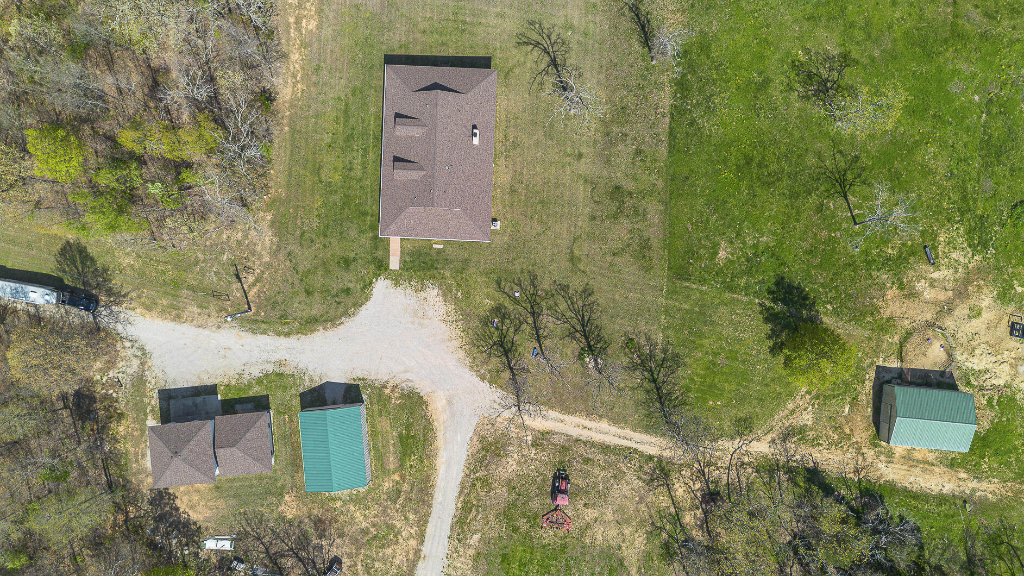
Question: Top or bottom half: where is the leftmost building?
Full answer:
The leftmost building sits in the bottom half of the picture.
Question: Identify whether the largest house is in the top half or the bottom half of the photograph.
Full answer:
You can find the largest house in the top half.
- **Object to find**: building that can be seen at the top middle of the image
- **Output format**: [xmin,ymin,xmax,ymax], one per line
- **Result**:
[378,64,498,243]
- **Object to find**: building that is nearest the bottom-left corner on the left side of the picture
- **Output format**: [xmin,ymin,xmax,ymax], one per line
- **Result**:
[147,411,276,489]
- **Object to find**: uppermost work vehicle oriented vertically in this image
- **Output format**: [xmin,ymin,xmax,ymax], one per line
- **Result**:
[556,462,572,504]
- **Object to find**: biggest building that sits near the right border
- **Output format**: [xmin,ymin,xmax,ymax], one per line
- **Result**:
[877,384,977,452]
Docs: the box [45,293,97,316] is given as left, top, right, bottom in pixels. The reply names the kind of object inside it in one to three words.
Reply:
truck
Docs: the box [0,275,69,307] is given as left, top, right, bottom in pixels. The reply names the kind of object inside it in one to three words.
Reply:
trailer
